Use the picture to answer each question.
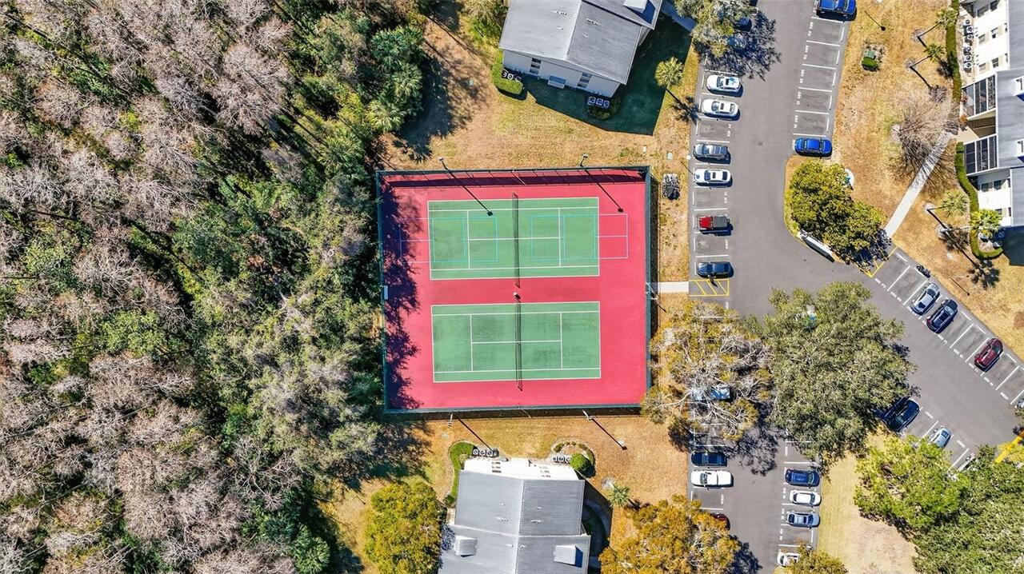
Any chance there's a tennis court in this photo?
Yes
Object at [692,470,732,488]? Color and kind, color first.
white vehicle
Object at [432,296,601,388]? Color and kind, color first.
green tennis court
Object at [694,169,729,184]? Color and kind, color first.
white car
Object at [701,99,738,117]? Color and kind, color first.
white car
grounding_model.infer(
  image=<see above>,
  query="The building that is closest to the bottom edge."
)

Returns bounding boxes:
[437,459,593,574]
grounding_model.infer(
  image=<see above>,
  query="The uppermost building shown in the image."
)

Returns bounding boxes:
[498,0,657,96]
